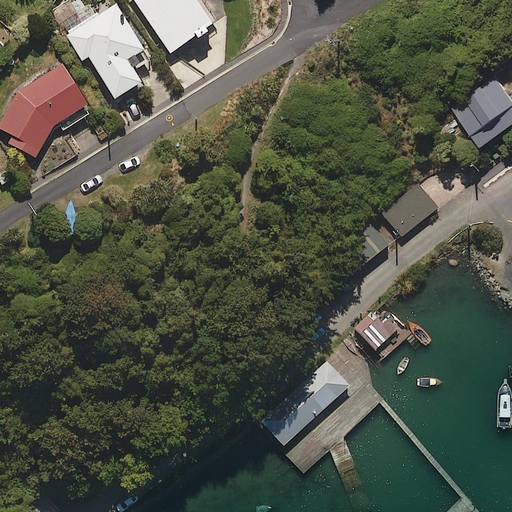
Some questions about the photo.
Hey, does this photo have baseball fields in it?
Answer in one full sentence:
No, I find no baseball field anywhere in the image.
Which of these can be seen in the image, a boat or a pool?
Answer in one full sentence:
The image shows a boat.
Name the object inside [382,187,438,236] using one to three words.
building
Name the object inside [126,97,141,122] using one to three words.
car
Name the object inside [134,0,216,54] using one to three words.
house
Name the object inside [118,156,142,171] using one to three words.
car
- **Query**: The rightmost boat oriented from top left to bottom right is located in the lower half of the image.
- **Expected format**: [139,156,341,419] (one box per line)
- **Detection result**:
[408,320,432,346]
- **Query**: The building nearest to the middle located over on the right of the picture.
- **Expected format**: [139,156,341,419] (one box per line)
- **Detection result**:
[356,224,388,262]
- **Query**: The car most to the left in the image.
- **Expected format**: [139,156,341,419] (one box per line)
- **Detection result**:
[80,176,103,193]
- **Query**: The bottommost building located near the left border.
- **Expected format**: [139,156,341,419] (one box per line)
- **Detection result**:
[0,64,88,158]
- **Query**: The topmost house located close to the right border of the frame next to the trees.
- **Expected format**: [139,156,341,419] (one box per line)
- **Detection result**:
[452,73,512,147]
